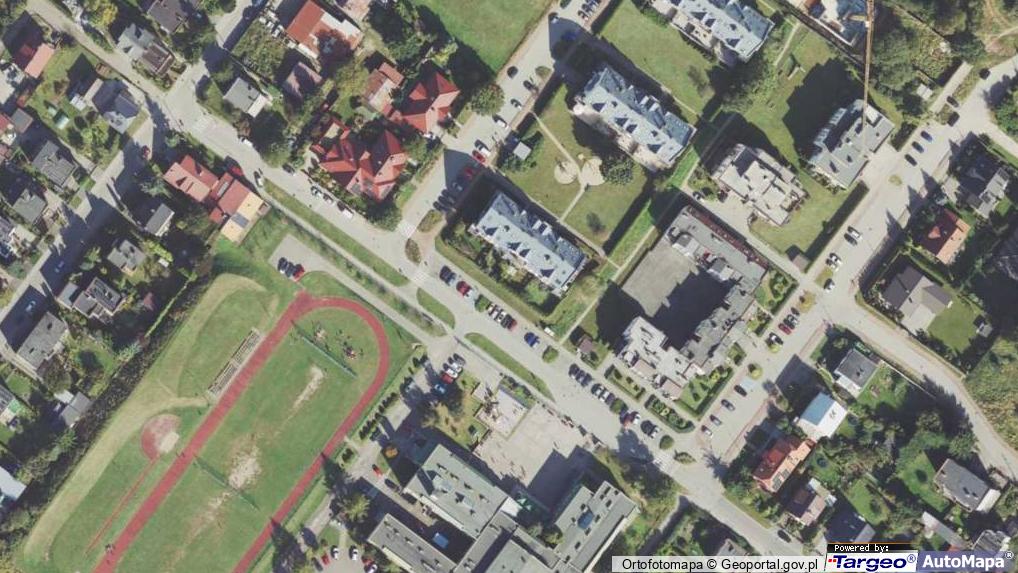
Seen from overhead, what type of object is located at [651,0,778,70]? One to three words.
building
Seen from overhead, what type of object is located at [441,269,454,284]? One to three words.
vehicle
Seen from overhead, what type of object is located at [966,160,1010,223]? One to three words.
house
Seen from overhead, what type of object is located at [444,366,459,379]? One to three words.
vehicle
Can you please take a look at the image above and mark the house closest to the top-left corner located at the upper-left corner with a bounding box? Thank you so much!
[13,33,57,82]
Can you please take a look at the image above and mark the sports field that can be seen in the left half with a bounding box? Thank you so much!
[114,306,380,573]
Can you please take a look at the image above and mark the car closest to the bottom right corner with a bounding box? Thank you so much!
[776,530,791,543]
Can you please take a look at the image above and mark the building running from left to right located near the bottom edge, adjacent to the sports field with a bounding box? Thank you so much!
[367,446,637,573]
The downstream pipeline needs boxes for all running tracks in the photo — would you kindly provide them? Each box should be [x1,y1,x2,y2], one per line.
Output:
[92,292,388,573]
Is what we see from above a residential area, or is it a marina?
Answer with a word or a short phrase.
residential area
